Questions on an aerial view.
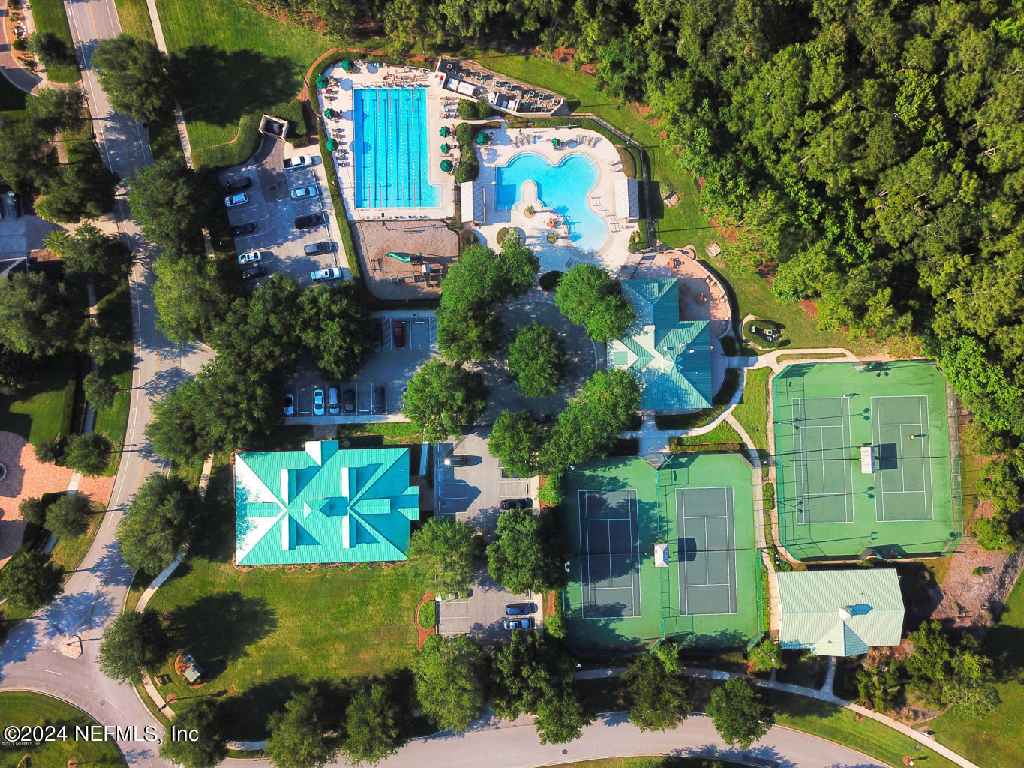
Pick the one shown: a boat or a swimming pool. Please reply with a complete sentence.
Visible in the photo is a swimming pool.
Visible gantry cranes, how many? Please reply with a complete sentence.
The count of gantry cranes is 0.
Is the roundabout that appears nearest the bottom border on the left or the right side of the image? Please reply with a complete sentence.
It is on the left.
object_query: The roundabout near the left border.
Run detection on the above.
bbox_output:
[0,640,179,768]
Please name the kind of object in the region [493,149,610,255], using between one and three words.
swimming pool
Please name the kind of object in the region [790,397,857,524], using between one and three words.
tennis court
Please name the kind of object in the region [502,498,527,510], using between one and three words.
vehicle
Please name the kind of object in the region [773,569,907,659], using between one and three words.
building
